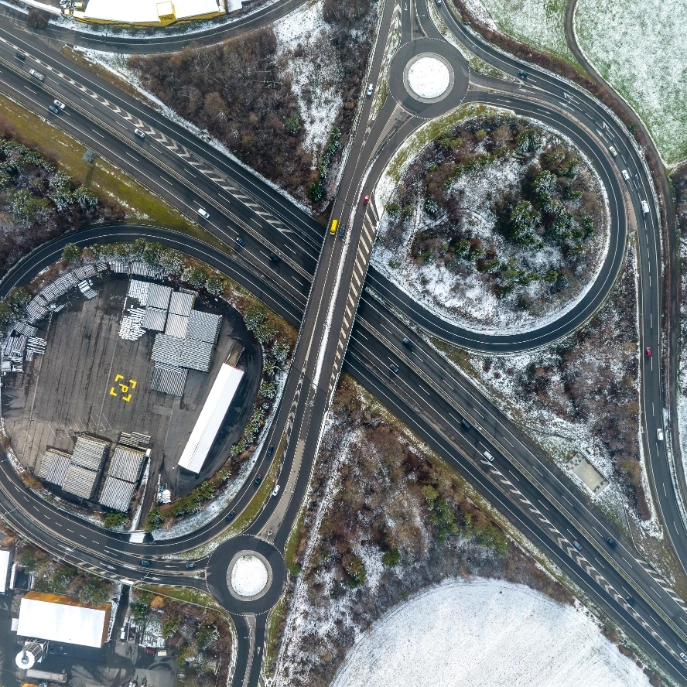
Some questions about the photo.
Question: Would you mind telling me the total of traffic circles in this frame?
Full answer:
The photo contains 2 traffic circles.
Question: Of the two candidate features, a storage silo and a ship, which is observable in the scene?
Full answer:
It is a storage silo that can be seen here.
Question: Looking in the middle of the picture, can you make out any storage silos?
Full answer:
No, I see no storage silo in the middle of the picture.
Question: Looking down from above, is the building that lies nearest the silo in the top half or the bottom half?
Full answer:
The building that lies nearest the silo sits in the bottom half of the picture.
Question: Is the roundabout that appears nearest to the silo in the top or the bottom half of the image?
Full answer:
Seen from above, the roundabout that appears nearest to the silo lies in the bottom half of the view.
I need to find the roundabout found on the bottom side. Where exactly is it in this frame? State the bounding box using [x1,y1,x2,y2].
[207,535,286,614]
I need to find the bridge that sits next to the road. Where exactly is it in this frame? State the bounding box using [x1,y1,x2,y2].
[286,193,381,397]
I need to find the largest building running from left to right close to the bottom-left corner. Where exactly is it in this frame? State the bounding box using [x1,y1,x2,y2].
[11,592,112,648]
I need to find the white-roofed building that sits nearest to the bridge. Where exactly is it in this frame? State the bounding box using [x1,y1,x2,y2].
[178,362,247,474]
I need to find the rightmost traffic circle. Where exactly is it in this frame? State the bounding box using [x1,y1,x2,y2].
[390,39,469,117]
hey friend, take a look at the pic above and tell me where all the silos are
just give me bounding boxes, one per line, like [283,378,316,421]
[15,637,53,665]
